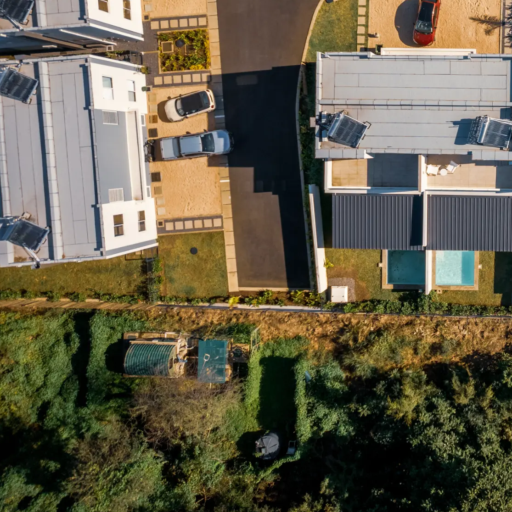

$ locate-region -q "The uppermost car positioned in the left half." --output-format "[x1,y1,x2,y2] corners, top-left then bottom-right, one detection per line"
[163,89,219,122]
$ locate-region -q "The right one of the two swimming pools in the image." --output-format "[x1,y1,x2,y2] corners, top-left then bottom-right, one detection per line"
[431,251,482,290]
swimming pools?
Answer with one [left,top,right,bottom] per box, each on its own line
[378,238,425,288]
[431,251,482,290]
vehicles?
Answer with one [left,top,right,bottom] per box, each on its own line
[145,137,157,161]
[410,0,442,48]
[160,129,233,160]
[163,89,219,122]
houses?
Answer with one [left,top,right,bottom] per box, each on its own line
[311,48,512,252]
[0,0,143,55]
[0,55,159,272]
